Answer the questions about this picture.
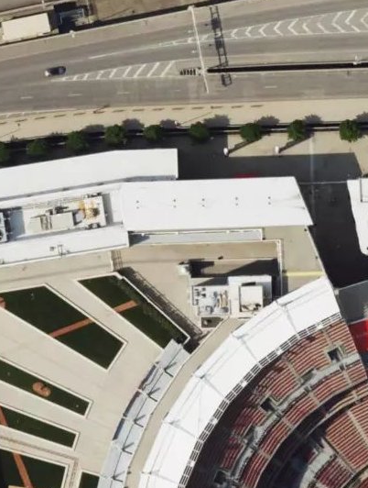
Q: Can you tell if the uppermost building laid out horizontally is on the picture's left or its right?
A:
left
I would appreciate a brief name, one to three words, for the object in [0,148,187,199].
building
